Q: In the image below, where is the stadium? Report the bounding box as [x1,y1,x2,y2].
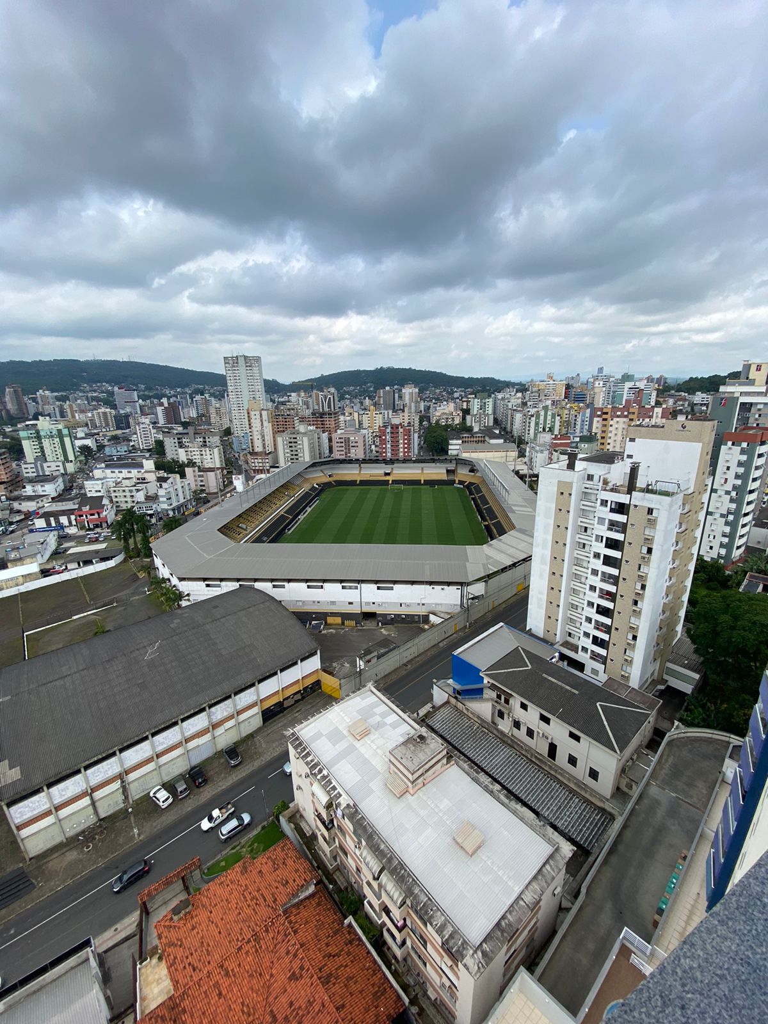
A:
[149,458,538,584]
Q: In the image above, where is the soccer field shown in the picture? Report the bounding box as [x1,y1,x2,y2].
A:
[275,486,488,554]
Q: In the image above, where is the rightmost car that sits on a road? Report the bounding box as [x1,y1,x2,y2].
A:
[273,760,293,783]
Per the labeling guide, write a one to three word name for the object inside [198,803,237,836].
truck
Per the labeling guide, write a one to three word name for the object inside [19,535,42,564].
shed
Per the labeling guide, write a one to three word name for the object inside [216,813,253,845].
car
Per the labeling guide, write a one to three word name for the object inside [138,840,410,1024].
house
